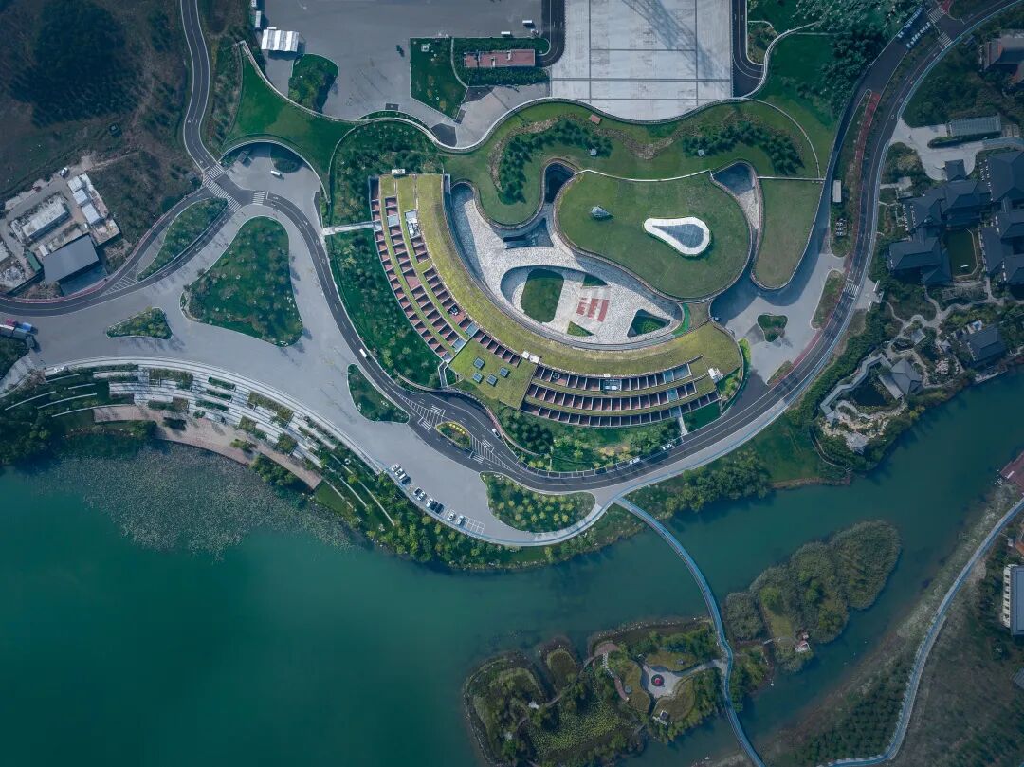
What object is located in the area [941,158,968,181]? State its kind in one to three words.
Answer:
building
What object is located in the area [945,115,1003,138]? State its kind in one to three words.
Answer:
shed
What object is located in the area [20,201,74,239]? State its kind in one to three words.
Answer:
shed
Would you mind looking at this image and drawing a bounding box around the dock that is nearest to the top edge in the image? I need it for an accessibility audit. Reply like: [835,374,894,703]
[999,452,1024,482]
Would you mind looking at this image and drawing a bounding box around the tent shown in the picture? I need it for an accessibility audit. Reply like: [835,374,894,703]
[262,29,301,55]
